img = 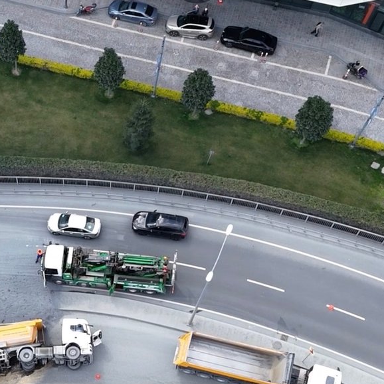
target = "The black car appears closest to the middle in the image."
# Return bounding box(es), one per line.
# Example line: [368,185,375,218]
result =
[132,212,188,241]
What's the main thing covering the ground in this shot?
paved ground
